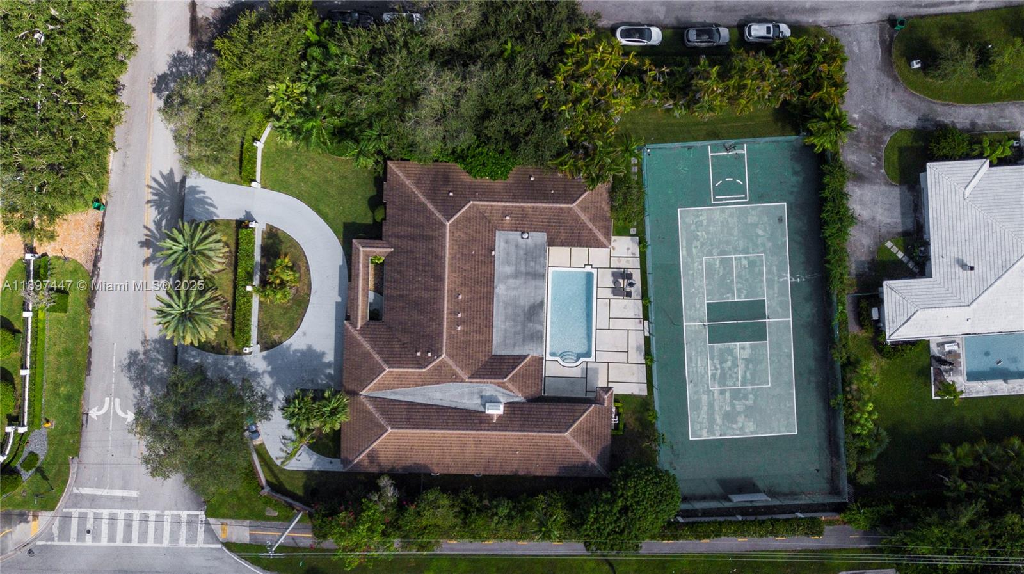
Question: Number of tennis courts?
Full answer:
In total, 1 tennis court can be seen.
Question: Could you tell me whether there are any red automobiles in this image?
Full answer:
No, the picture doesn't show any red automobile.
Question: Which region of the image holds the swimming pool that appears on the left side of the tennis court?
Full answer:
Look in the center portion of the view to spot the swimming pool that appears on the left side of the tennis court.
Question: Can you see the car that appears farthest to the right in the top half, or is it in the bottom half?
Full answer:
The top half of the photo is where the car that appears farthest to the right is.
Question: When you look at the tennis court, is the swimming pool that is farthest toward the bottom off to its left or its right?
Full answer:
The swimming pool that is farthest toward the bottom can be seen on the right of the tennis court.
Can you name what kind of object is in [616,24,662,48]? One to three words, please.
car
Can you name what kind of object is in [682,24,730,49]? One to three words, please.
car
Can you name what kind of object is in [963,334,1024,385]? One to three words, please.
swimming pool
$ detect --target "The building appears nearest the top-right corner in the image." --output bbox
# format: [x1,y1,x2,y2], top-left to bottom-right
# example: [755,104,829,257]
[876,159,1024,341]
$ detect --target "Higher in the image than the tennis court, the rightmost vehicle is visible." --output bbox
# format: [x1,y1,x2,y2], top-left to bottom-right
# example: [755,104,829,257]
[744,20,792,46]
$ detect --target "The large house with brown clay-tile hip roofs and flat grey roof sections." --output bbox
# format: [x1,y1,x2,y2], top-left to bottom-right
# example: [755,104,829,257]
[340,160,614,478]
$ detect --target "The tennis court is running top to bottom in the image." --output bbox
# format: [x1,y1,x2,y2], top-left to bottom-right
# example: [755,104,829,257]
[645,142,832,501]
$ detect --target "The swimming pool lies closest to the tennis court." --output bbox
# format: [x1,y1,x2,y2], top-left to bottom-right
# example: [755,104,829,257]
[546,265,597,367]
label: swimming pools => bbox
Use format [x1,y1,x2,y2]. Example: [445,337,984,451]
[963,334,1024,385]
[546,265,597,367]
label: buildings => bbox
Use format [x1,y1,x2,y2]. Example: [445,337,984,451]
[876,159,1024,341]
[340,160,614,478]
